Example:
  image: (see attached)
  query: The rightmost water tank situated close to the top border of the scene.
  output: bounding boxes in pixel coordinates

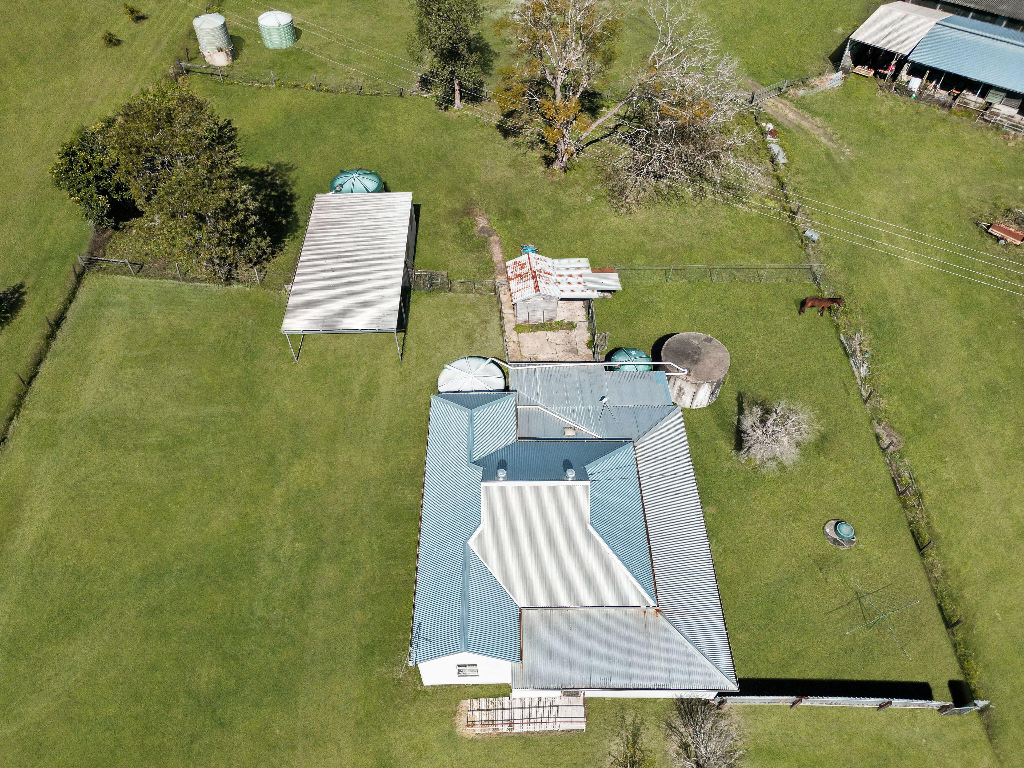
[258,13,299,49]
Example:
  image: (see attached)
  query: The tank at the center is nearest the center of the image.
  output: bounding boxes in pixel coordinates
[439,357,505,394]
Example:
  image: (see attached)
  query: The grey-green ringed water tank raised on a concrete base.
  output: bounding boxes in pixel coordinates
[194,13,240,65]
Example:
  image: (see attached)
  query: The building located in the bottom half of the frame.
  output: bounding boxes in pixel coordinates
[407,358,740,698]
